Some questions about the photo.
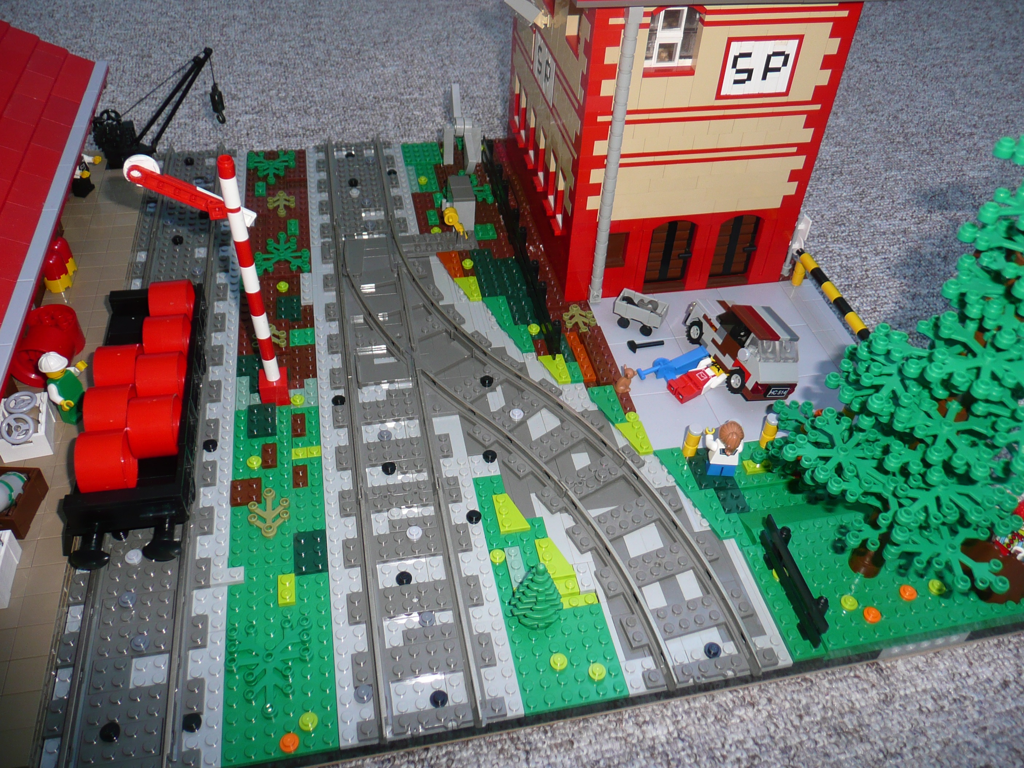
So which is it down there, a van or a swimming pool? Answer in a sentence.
The one in the frame is a van.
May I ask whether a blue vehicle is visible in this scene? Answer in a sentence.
No, the picture doesn't show any blue vehicle.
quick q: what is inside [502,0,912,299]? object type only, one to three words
building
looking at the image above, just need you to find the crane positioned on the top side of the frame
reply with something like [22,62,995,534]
[93,45,231,172]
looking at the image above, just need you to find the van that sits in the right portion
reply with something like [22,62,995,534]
[684,300,794,408]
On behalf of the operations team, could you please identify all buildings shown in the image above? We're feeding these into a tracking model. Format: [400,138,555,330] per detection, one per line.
[0,23,111,429]
[502,0,912,299]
